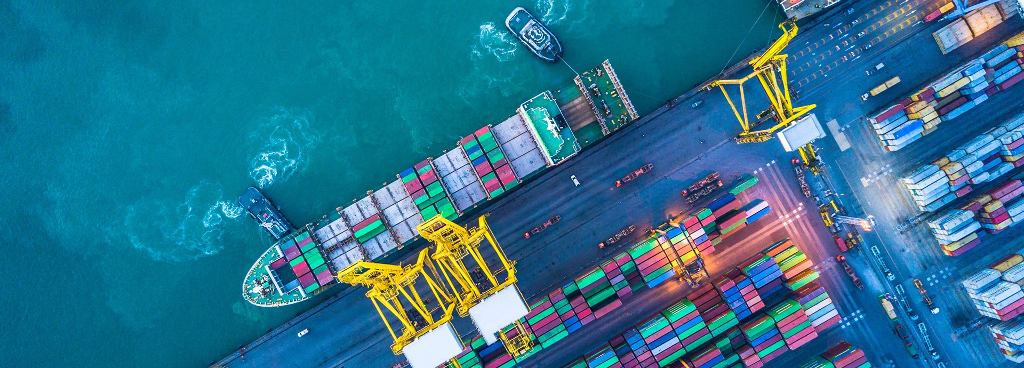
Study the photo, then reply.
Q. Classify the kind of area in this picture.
port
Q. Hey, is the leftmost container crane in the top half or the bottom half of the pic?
bottom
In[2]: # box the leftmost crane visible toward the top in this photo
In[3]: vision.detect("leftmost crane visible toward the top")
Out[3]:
[705,5,828,172]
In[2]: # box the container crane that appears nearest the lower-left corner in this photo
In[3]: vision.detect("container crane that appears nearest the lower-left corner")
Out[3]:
[329,243,464,368]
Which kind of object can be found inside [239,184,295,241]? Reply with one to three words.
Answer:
boat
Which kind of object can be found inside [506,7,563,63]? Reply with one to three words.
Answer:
boat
